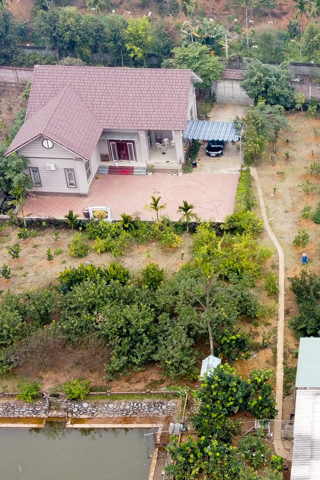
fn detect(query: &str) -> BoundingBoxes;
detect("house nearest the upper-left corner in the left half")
[4,64,200,196]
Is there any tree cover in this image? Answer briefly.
Yes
